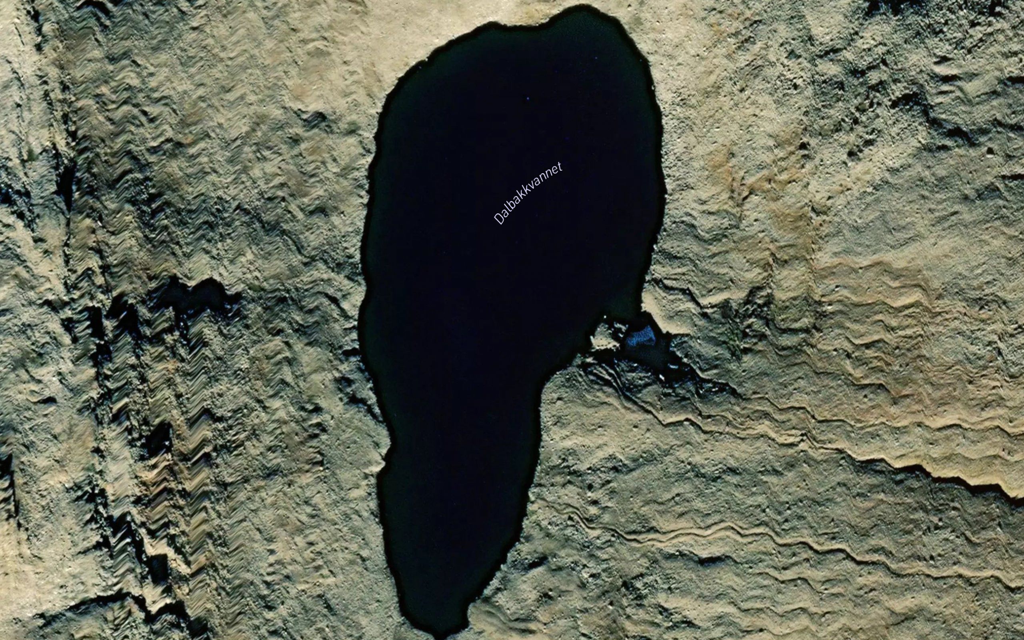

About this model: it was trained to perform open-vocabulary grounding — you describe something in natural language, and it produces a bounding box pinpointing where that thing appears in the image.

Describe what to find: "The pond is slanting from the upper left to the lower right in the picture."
[587,307,736,395]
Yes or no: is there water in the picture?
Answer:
Yes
